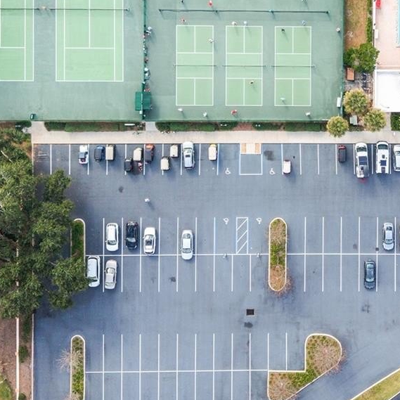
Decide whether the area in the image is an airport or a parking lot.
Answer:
parking lot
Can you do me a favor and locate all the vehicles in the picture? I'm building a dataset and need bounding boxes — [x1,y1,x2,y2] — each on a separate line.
[180,140,195,170]
[209,145,218,162]
[124,157,134,174]
[95,145,105,163]
[382,222,395,251]
[180,230,193,259]
[105,146,115,162]
[284,158,290,174]
[144,145,155,163]
[79,147,89,167]
[354,141,369,181]
[104,222,120,252]
[143,226,157,255]
[170,144,179,160]
[133,146,143,164]
[392,144,400,170]
[364,259,376,288]
[87,256,101,286]
[160,157,170,174]
[337,146,345,163]
[104,259,119,289]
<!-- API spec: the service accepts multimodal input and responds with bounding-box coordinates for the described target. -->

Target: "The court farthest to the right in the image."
[271,26,314,105]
